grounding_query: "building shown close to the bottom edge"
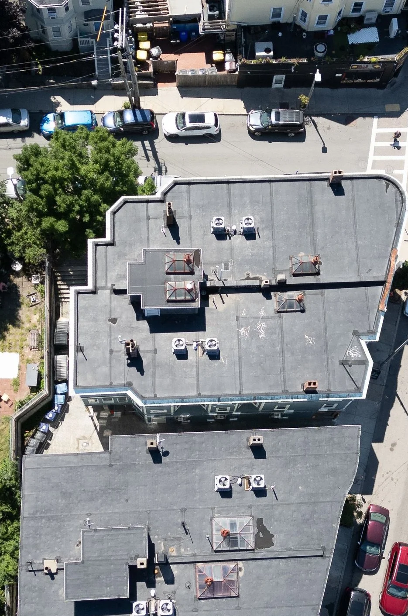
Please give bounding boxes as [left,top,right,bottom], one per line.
[17,424,361,616]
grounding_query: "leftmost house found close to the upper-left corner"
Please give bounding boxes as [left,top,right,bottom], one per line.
[13,0,114,59]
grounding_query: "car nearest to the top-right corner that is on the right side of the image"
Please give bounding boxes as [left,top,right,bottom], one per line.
[243,108,309,142]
